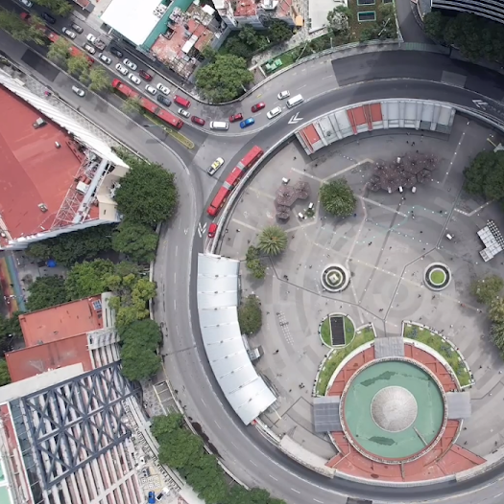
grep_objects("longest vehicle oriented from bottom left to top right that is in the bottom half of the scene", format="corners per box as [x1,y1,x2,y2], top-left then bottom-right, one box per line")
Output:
[153,486,171,500]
